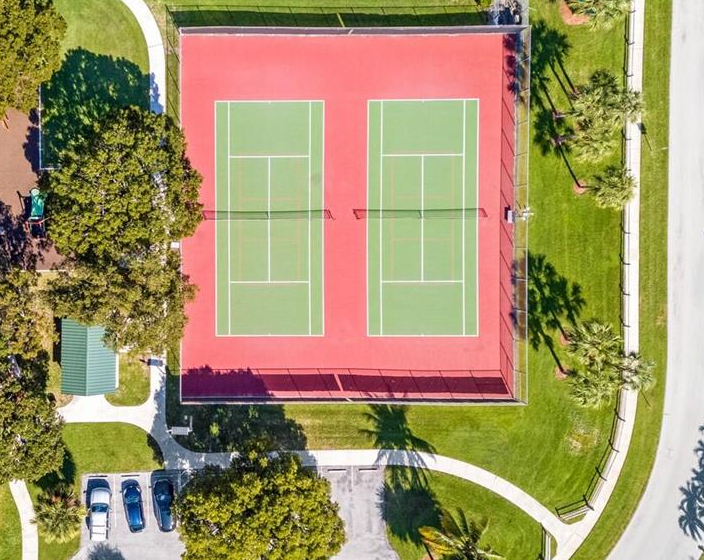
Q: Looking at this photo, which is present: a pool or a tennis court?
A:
tennis court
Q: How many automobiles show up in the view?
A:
3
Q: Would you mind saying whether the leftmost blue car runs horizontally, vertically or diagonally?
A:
vertically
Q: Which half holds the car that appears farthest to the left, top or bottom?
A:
bottom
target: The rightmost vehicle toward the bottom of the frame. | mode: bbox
[152,482,174,530]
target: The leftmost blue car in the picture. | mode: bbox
[121,483,144,532]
